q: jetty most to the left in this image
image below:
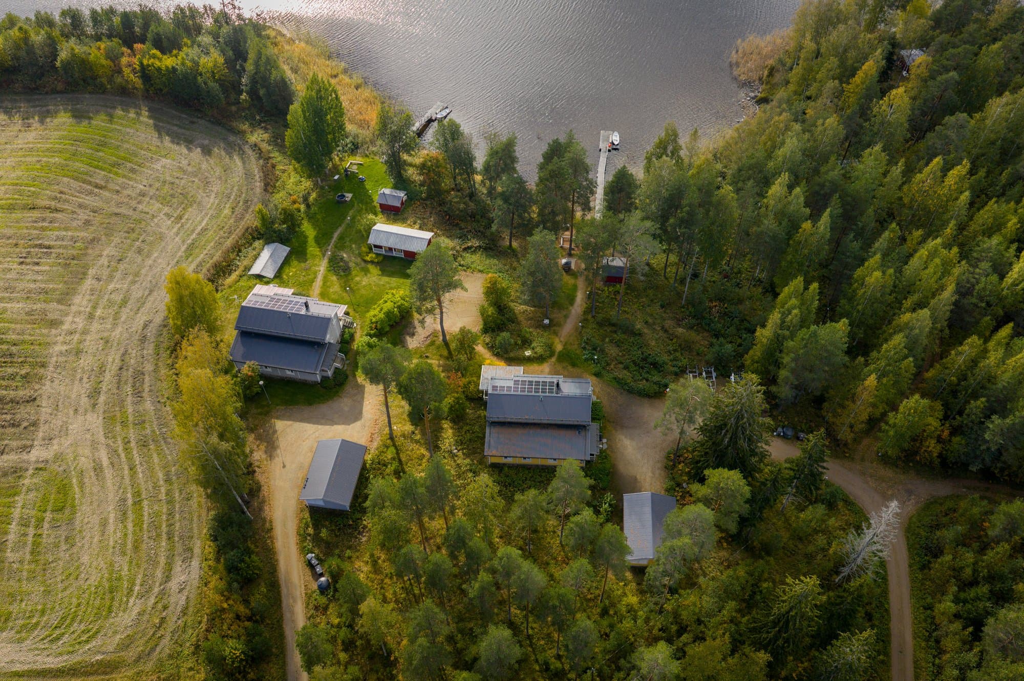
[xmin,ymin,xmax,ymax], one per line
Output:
[411,103,447,136]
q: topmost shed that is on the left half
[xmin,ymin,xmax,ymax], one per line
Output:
[377,192,409,218]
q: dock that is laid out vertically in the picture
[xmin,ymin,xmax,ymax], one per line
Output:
[595,131,613,216]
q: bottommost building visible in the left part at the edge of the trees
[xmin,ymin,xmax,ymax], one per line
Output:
[297,439,366,515]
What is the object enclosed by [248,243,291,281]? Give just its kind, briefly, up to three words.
shed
